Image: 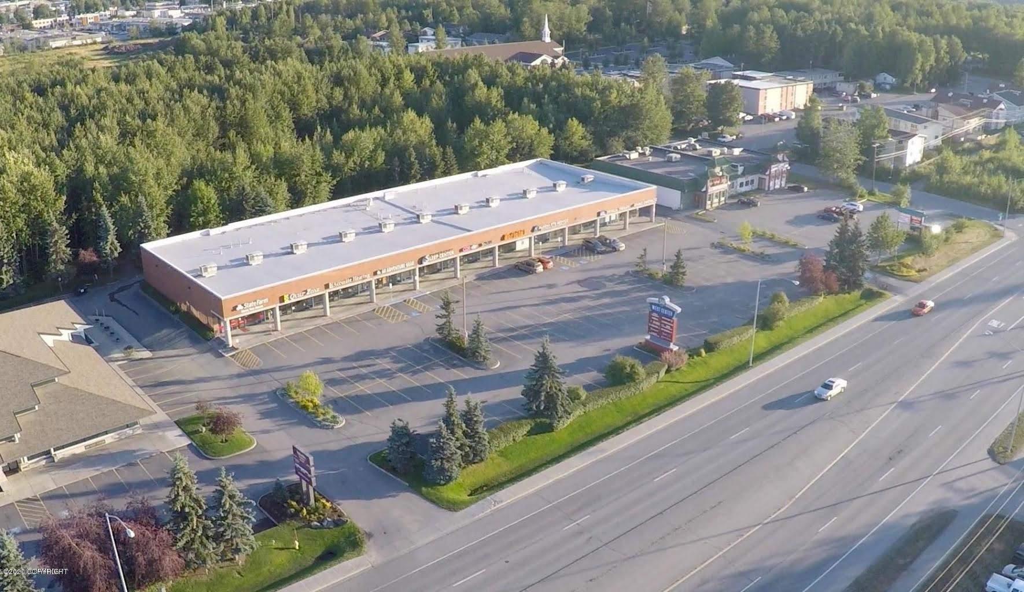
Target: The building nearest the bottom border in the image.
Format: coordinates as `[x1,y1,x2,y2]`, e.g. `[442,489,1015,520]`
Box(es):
[0,299,157,487]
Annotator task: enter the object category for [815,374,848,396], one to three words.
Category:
car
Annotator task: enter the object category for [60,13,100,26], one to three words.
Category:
building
